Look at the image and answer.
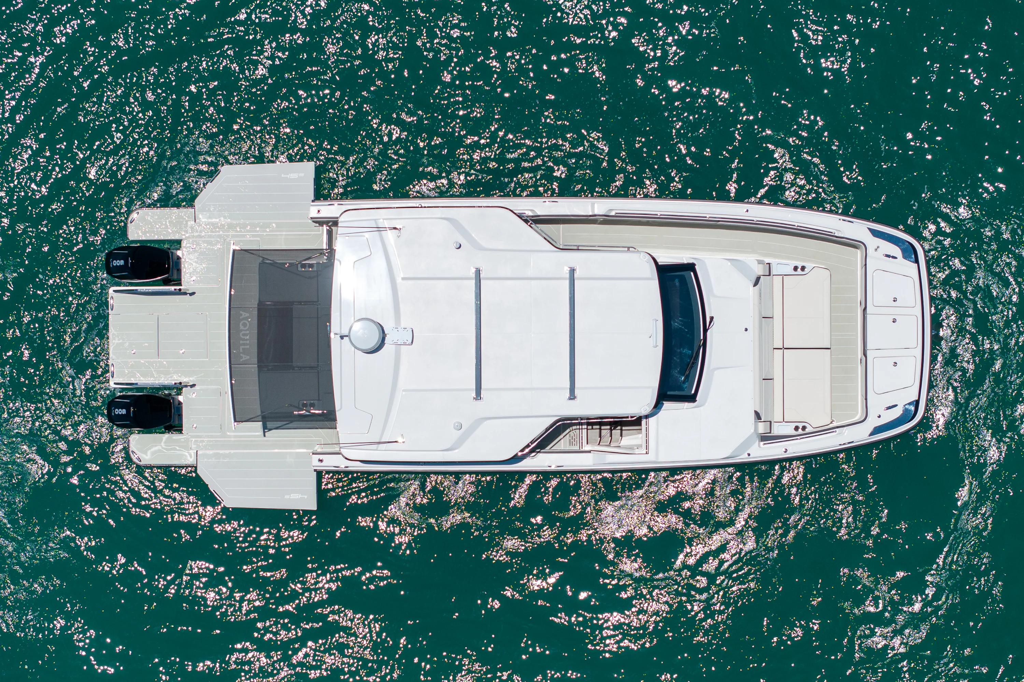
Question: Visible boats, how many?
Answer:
1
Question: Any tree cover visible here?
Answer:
No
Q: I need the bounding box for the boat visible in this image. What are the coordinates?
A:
[103,162,934,510]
